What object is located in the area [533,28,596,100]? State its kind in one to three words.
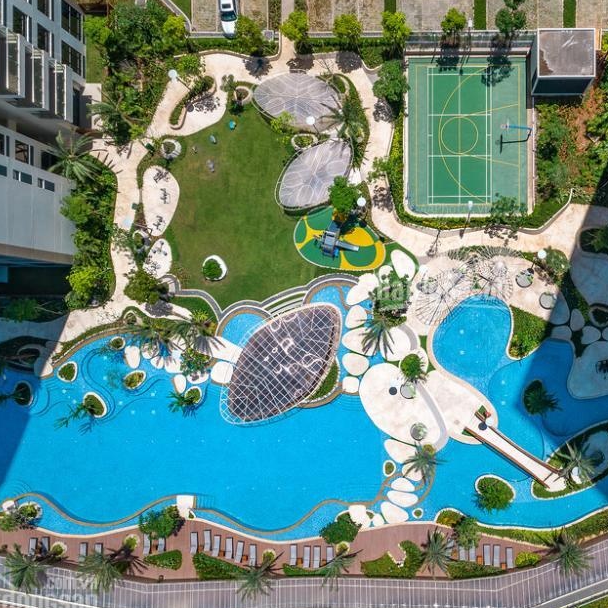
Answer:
building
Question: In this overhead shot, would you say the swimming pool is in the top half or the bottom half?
bottom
